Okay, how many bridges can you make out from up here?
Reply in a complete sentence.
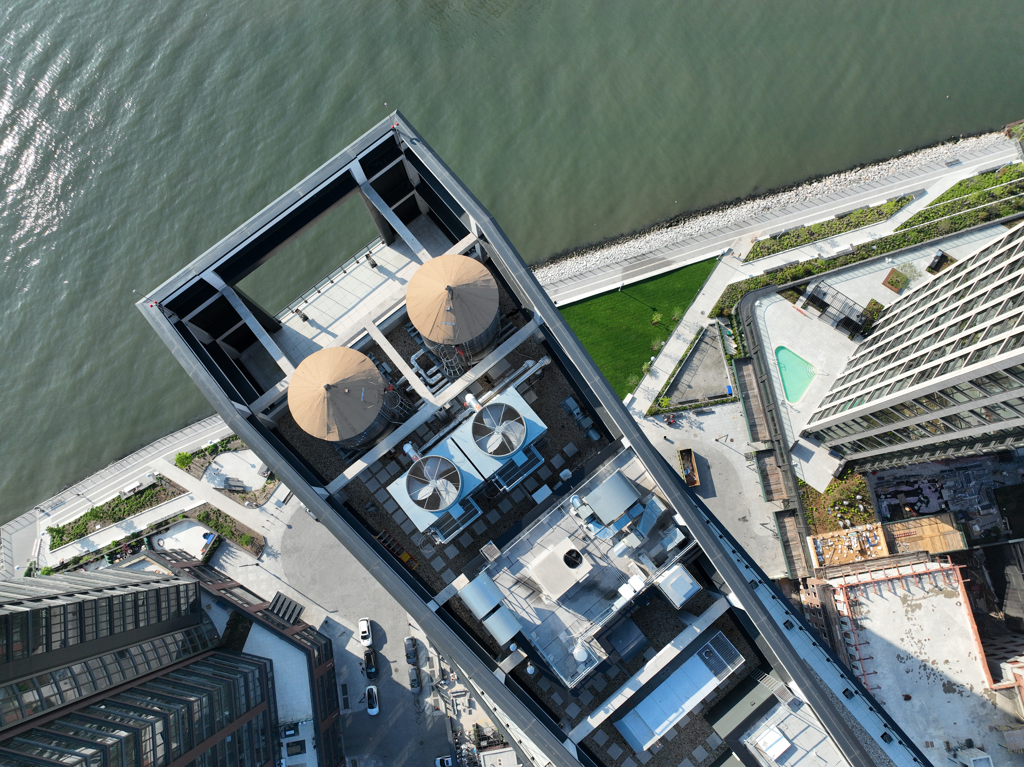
I count no bridges.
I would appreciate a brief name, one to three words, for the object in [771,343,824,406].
swimming pool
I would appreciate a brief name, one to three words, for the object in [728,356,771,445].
shed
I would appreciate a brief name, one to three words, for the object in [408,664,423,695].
car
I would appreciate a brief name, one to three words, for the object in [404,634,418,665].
car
